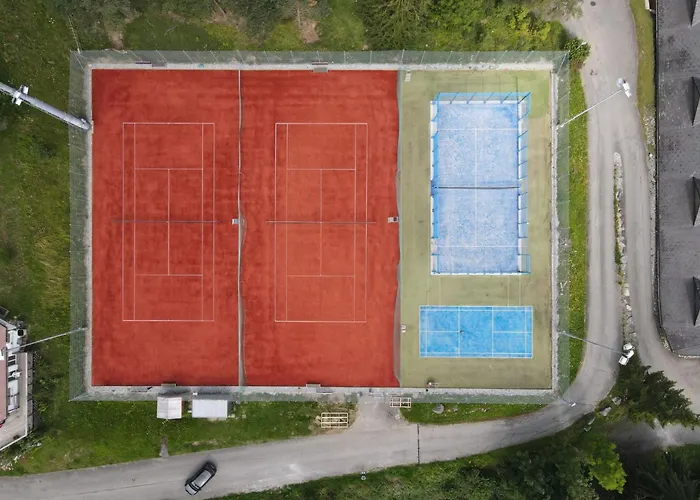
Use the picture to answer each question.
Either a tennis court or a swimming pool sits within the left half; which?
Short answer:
tennis court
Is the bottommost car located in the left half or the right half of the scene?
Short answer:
left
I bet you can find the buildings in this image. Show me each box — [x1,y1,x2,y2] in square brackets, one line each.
[655,0,700,358]
[0,317,36,449]
[191,395,231,418]
[157,393,187,419]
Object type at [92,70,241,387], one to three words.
tennis court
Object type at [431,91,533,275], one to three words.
sports court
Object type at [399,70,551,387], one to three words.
sports court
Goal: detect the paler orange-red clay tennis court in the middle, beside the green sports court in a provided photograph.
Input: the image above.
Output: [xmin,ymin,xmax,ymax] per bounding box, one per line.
[241,70,399,387]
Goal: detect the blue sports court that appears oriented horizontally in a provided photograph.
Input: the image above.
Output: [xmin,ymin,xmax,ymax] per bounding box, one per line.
[420,306,533,358]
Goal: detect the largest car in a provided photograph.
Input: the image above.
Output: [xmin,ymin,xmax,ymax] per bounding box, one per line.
[185,460,218,495]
